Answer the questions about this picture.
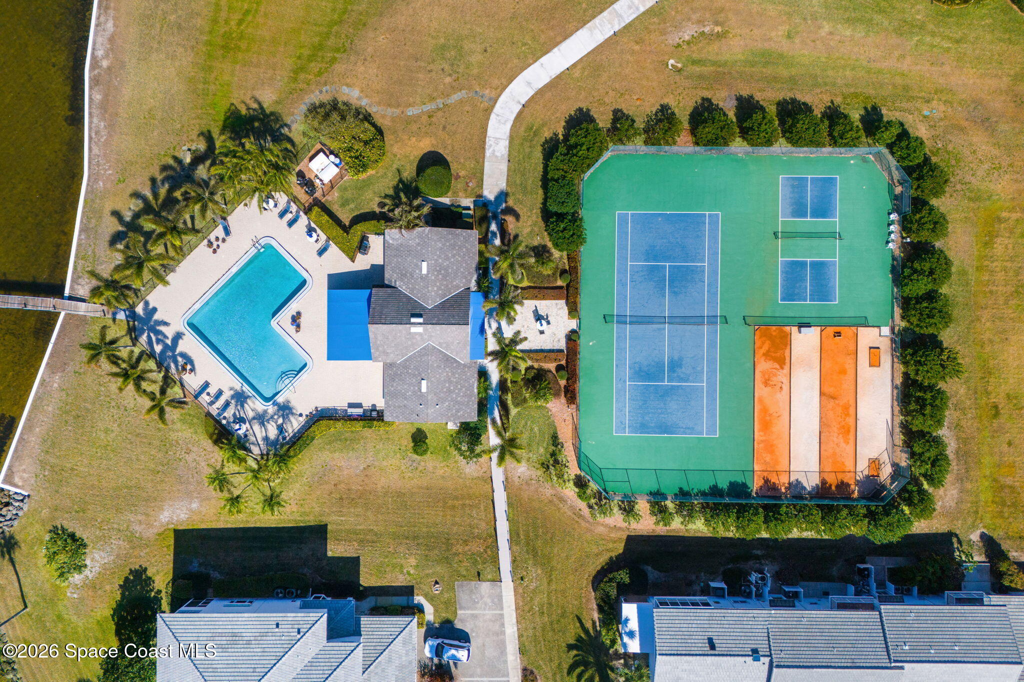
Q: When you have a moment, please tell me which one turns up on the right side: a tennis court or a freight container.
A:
tennis court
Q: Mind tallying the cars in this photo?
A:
one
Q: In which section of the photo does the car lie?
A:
bottom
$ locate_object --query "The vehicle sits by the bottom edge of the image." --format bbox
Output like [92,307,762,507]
[425,636,470,662]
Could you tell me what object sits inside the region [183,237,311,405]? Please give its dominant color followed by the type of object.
blue swimming pool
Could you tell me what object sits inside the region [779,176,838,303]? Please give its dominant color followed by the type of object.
blue sports court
